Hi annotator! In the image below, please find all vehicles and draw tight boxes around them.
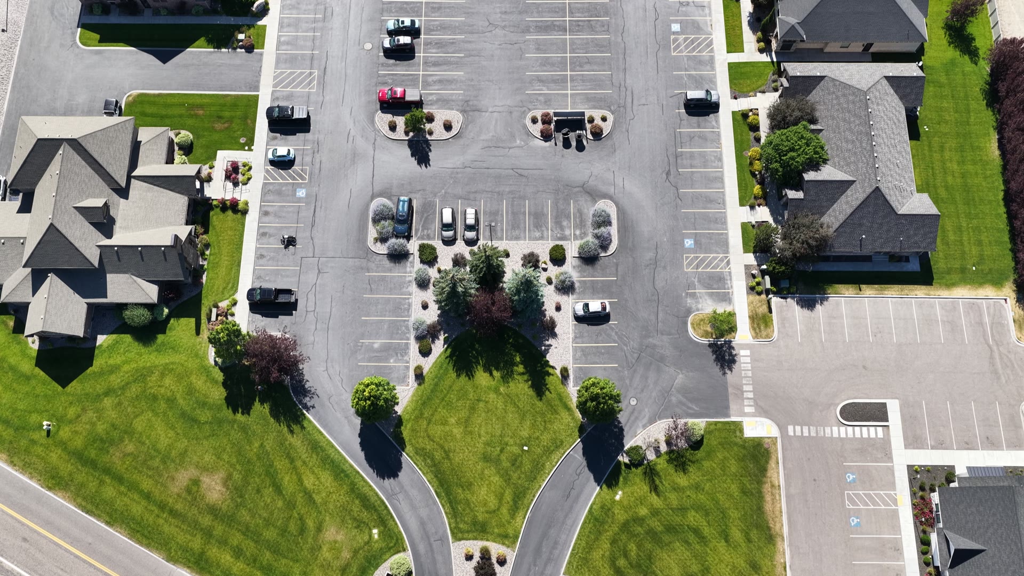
[463,210,479,244]
[104,95,123,116]
[268,149,296,164]
[383,38,415,54]
[0,172,8,201]
[266,104,311,124]
[378,88,424,108]
[439,208,456,244]
[394,201,411,237]
[387,22,421,37]
[683,93,719,110]
[247,286,298,306]
[573,303,610,319]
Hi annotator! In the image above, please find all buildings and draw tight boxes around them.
[0,116,203,337]
[921,466,1024,576]
[777,63,941,258]
[774,0,929,53]
[71,0,207,15]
